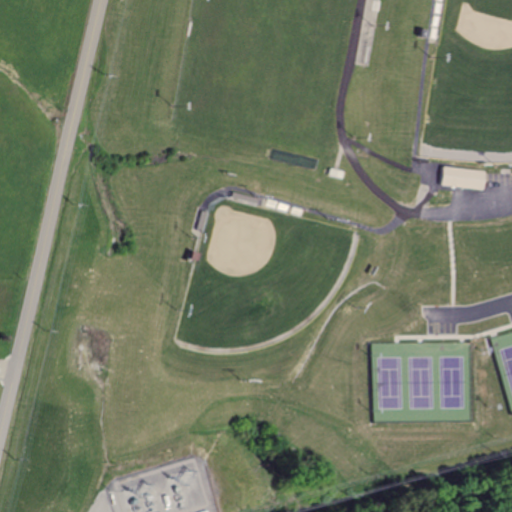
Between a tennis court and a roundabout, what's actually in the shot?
tennis court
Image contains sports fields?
Yes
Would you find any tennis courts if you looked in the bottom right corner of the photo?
Yes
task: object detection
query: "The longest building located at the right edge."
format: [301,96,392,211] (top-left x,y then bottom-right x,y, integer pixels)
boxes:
[438,166,486,190]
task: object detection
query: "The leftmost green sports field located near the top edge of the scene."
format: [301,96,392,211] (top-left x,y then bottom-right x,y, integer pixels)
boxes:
[172,0,358,156]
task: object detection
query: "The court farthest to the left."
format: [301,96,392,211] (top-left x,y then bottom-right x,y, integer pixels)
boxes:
[376,356,402,410]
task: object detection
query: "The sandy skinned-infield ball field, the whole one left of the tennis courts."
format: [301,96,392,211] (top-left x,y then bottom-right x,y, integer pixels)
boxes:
[177,200,358,354]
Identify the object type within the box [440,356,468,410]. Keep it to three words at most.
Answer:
tennis court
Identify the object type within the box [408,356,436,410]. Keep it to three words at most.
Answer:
tennis court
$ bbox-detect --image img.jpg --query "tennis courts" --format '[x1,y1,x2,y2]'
[500,347,512,394]
[408,356,436,410]
[440,356,468,410]
[376,356,402,410]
